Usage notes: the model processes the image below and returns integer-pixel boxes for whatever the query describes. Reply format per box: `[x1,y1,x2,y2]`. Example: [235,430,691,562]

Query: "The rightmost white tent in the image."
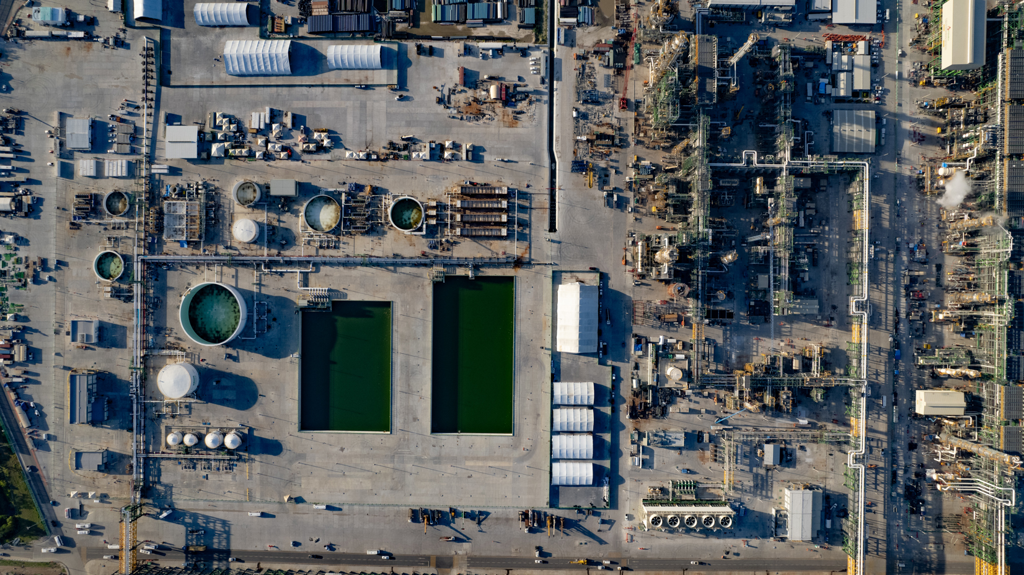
[557,283,598,356]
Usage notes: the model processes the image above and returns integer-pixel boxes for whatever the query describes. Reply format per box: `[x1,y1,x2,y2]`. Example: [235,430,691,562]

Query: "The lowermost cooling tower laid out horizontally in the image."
[641,502,737,530]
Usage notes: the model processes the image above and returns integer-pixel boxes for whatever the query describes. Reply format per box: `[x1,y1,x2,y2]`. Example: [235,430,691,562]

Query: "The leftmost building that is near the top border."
[32,7,70,27]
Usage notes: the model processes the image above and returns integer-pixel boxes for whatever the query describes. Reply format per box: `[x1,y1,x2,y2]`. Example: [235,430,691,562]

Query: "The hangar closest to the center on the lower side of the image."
[553,382,595,405]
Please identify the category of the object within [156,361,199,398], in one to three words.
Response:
storage tank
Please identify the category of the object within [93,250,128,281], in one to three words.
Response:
storage tank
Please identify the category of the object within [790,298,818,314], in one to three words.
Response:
building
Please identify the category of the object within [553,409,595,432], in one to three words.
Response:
hangar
